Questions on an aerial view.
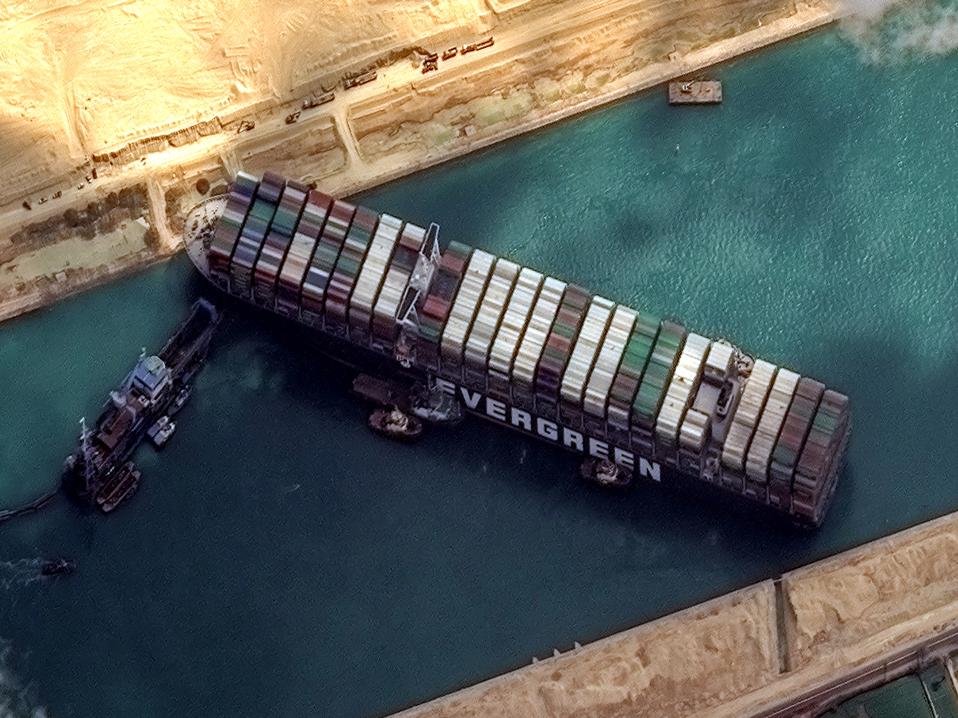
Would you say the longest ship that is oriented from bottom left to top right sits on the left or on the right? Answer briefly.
left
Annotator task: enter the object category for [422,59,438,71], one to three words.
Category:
vehicle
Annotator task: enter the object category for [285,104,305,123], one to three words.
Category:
work vehicle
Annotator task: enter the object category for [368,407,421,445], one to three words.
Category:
boat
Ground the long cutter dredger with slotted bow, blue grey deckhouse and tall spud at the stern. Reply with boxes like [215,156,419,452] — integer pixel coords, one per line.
[65,296,217,505]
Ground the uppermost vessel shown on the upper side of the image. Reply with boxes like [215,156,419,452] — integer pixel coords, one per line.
[669,78,722,106]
